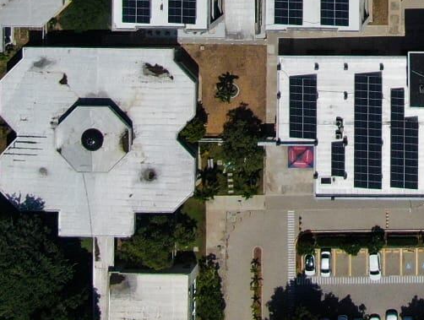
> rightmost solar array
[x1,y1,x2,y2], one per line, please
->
[390,88,417,189]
